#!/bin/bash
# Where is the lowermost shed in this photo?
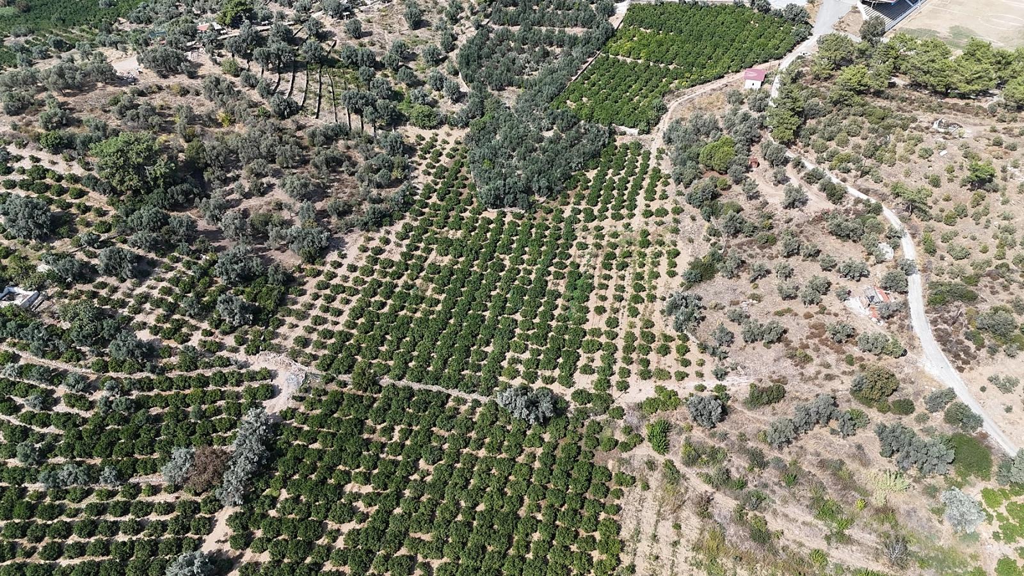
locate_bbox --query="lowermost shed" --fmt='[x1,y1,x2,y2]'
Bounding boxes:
[864,286,888,317]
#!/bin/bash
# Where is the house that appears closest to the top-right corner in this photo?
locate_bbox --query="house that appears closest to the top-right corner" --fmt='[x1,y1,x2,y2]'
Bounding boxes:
[744,69,765,90]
